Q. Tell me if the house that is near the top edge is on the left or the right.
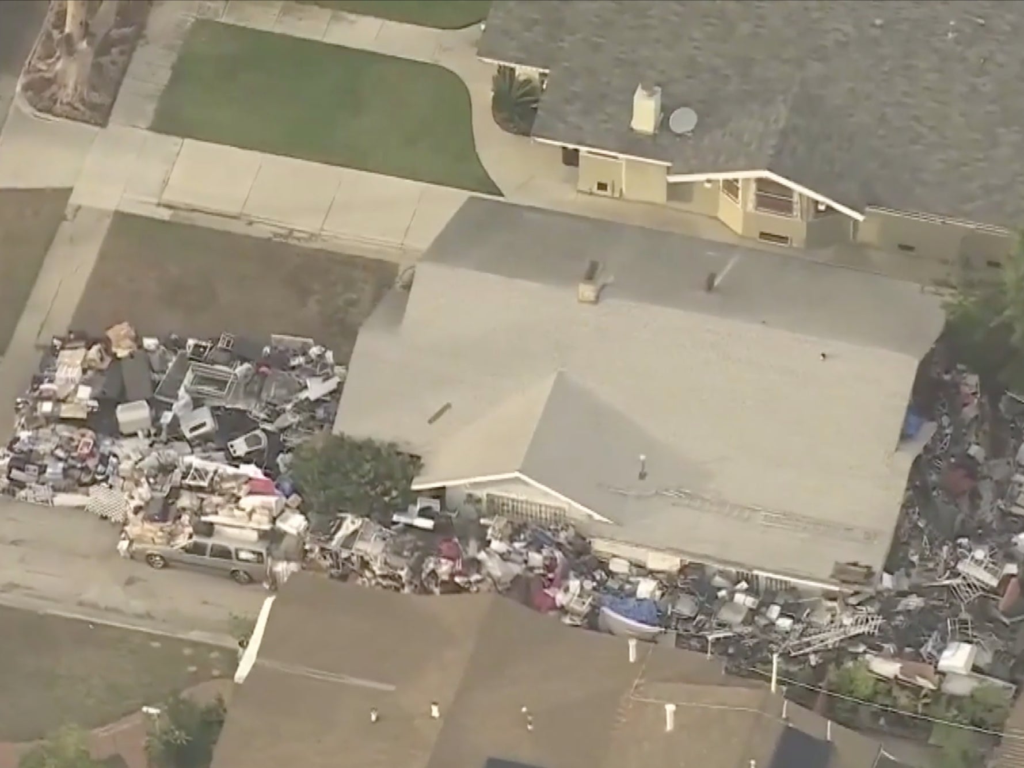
right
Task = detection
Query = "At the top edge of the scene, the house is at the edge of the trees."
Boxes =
[478,0,1024,266]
